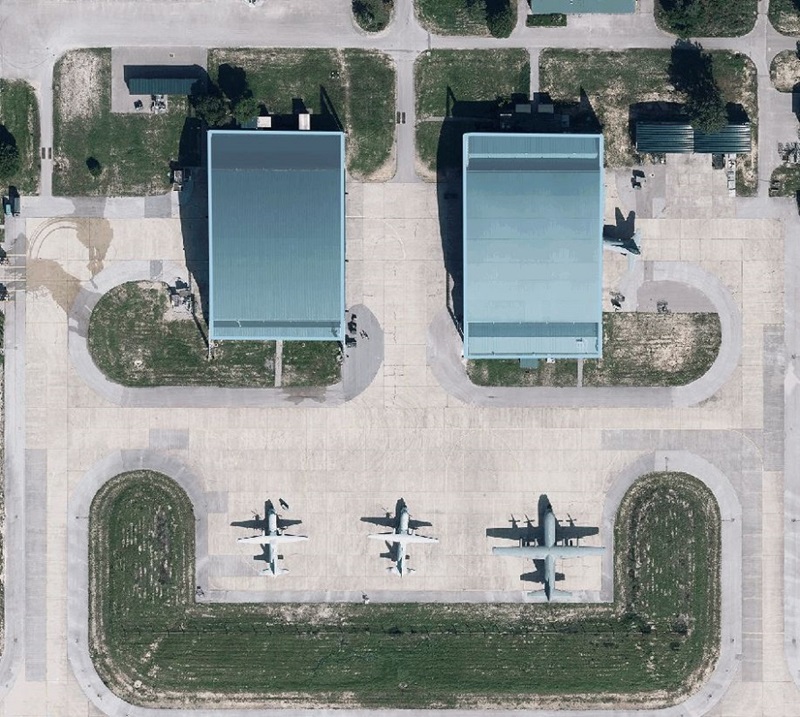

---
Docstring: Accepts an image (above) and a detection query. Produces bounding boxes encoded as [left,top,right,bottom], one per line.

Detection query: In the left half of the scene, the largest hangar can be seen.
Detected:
[207,129,345,362]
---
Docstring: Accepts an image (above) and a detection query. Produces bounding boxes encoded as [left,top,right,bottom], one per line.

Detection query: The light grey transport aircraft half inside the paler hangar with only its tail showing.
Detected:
[605,231,642,269]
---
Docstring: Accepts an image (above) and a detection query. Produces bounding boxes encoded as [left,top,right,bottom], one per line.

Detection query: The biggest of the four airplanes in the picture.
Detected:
[493,505,606,601]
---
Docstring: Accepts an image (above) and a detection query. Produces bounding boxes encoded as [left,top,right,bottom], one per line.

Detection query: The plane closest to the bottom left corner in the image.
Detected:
[238,509,309,577]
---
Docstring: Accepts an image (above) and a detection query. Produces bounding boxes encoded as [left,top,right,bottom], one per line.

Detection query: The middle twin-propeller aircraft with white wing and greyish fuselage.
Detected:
[367,508,439,577]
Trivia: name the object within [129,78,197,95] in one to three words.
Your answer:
shed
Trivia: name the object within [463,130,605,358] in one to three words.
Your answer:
hangar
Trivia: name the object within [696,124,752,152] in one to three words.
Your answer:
shed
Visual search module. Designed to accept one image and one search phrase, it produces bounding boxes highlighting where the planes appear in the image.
[238,509,309,577]
[605,231,642,269]
[367,508,439,577]
[493,505,606,601]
